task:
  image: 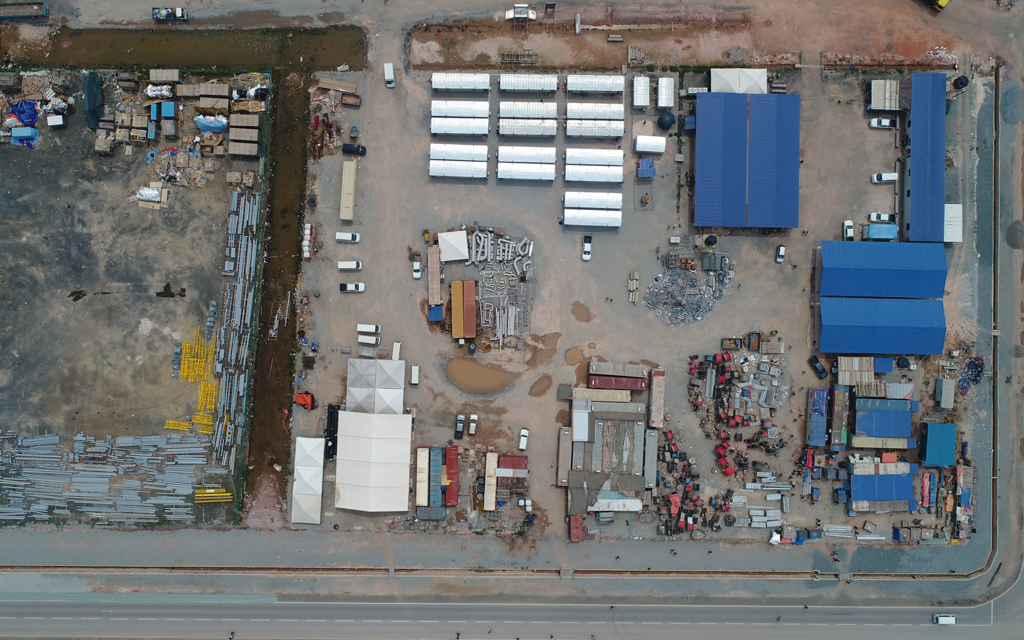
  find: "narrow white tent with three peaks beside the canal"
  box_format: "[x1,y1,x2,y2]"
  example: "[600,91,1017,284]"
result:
[293,436,327,524]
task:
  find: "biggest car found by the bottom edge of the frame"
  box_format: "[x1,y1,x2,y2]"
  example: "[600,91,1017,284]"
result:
[929,612,958,624]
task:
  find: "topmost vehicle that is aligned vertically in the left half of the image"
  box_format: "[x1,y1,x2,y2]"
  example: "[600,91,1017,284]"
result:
[384,63,396,91]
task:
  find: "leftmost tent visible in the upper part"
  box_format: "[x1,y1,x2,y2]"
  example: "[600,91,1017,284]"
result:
[439,232,469,261]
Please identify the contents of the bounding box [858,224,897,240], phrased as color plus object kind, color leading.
blue vehicle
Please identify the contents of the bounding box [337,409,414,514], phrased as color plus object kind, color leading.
white tent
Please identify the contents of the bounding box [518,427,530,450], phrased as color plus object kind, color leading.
white vehicle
